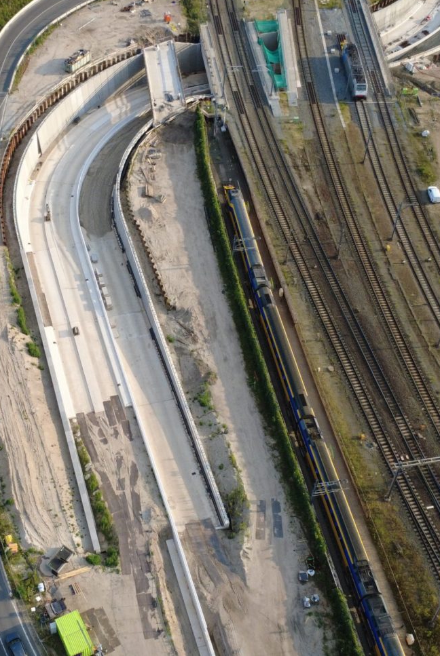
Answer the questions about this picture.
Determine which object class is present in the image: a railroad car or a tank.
railroad car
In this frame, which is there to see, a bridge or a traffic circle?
bridge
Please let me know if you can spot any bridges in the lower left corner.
No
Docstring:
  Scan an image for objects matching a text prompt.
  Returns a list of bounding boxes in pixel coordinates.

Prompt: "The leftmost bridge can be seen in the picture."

[143,39,185,128]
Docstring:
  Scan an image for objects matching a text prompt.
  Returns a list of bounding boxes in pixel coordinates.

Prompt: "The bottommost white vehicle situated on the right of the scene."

[427,184,440,202]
